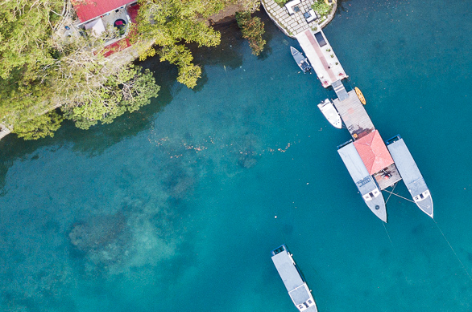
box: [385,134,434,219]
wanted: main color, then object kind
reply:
white boat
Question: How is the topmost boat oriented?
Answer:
at an angle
